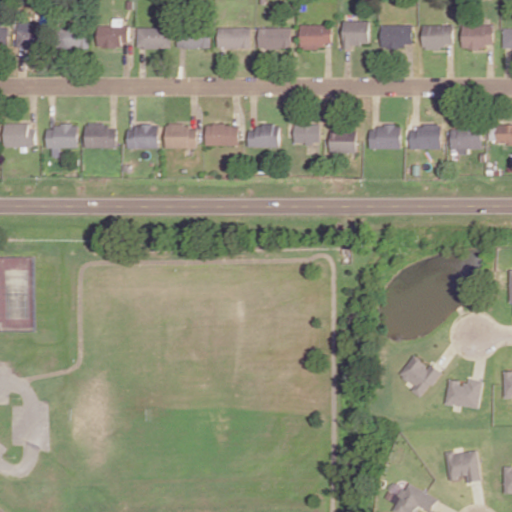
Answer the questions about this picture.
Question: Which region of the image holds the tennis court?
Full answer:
The tennis court is in the left part of the image.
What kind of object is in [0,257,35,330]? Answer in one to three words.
tennis court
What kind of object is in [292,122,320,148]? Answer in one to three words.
house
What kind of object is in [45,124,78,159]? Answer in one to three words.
house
